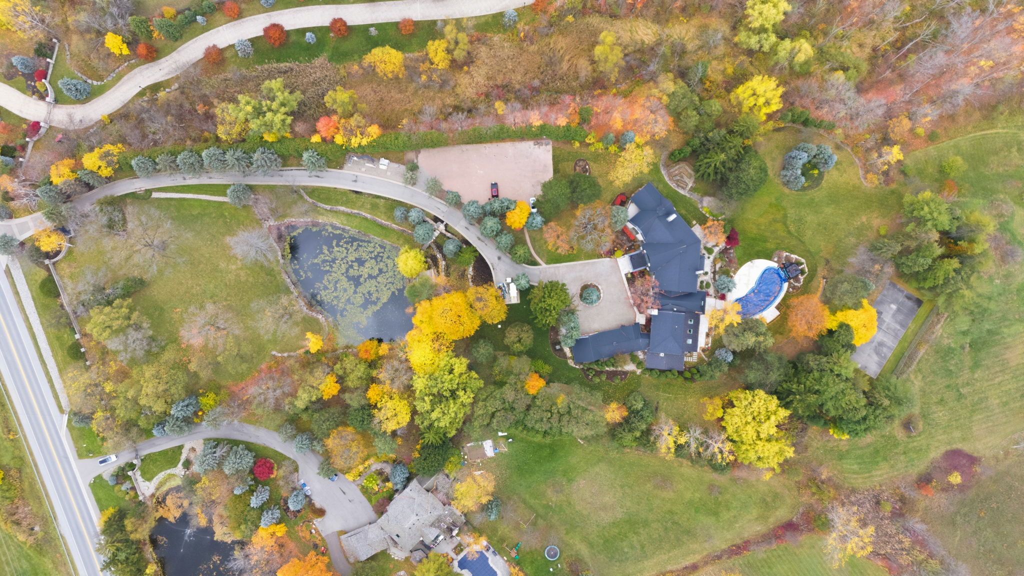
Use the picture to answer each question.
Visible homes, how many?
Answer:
2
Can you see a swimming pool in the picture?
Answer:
Yes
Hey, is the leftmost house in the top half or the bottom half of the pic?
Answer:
bottom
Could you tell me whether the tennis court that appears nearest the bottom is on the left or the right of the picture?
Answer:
right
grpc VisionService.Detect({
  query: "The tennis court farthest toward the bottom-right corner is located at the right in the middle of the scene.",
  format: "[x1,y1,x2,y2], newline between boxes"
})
[847,281,923,378]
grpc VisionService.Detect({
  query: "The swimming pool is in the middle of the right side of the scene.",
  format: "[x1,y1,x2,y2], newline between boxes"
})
[723,259,789,323]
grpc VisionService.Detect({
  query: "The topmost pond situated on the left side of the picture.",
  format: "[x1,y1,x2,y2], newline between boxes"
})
[288,223,413,343]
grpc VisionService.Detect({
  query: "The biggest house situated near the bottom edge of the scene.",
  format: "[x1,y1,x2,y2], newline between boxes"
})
[340,477,465,562]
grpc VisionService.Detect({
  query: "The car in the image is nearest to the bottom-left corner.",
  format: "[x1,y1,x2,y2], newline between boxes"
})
[95,453,117,466]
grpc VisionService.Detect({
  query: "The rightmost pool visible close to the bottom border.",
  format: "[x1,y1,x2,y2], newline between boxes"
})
[453,542,510,576]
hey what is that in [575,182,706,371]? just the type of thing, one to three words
house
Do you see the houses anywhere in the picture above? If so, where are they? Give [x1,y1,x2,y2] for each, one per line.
[340,477,465,562]
[575,182,706,371]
